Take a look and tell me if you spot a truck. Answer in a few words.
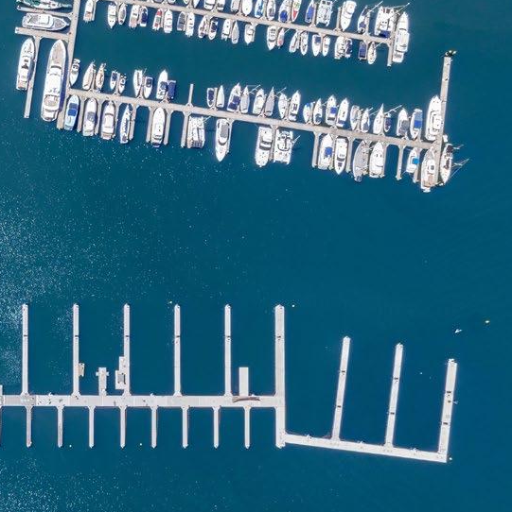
No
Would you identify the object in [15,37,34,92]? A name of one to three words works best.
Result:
boat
